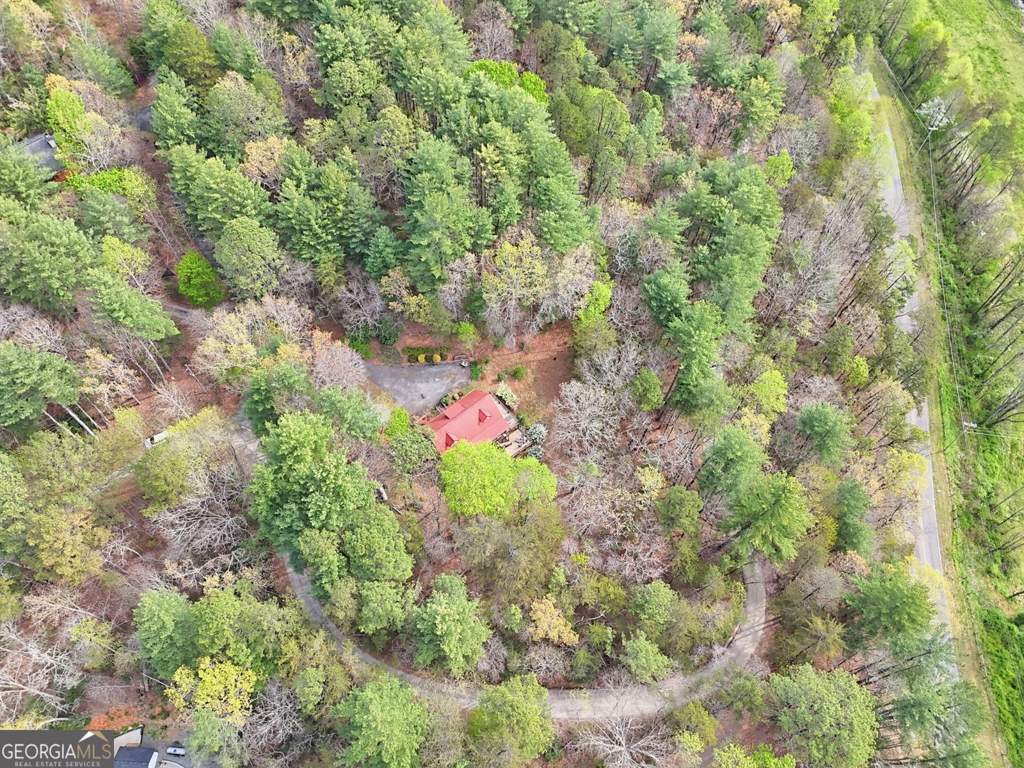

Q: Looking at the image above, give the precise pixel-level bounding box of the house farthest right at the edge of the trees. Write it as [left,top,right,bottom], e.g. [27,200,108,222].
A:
[424,388,534,459]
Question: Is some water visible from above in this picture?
No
